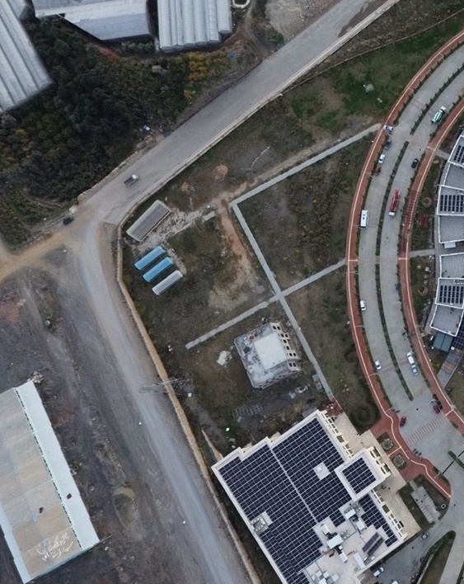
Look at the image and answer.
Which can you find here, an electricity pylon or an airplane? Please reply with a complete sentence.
Visible in the photo is an electricity pylon.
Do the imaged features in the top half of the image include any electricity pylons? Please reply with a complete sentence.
No, I see no electricity pylon in the top half of the image.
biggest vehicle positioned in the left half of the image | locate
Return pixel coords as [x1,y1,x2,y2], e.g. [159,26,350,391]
[124,174,141,186]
